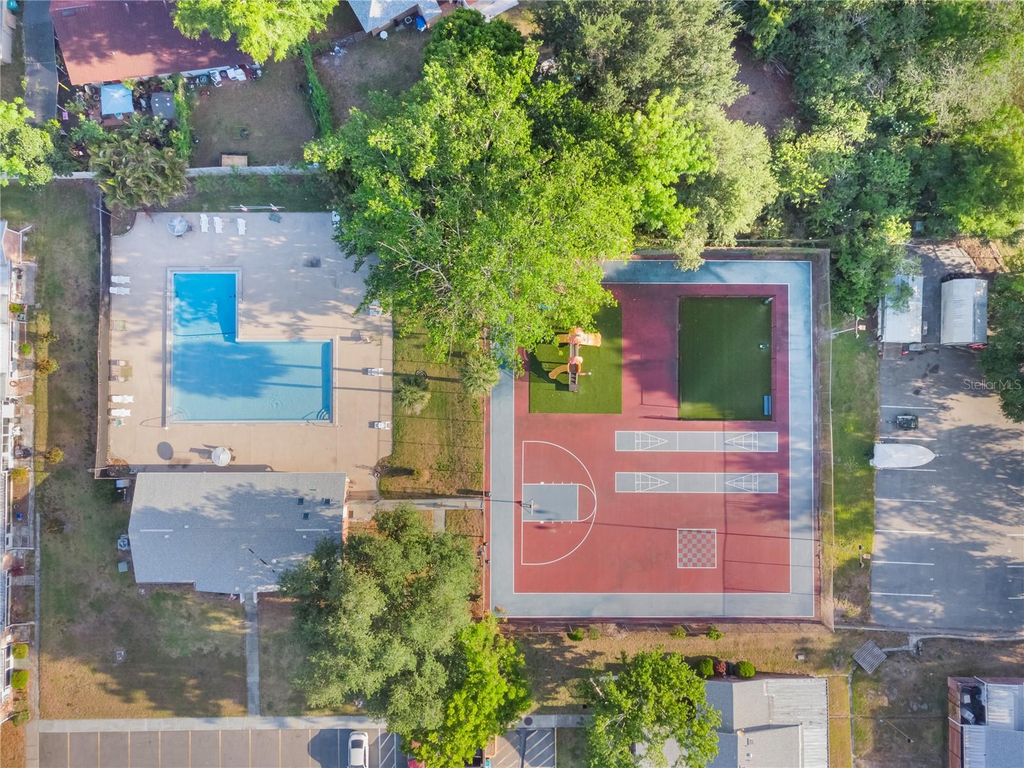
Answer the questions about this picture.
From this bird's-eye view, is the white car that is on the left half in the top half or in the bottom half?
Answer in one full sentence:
The bottom half of the photo is where the white car that is on the left half is.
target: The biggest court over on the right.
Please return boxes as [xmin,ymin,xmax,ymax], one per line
[484,253,821,624]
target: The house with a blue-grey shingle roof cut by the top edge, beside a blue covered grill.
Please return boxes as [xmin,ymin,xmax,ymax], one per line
[350,0,442,39]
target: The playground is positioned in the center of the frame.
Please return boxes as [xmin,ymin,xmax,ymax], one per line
[529,296,622,413]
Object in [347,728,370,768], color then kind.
white car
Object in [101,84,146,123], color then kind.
blue gazebo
